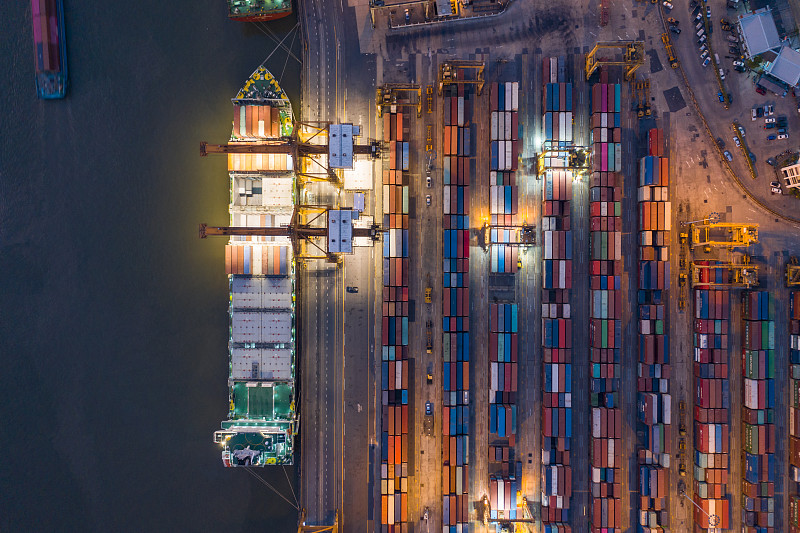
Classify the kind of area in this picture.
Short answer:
port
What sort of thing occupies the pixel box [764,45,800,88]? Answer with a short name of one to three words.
building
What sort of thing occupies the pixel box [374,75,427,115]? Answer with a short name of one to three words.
container crane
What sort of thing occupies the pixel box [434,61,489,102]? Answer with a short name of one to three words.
container crane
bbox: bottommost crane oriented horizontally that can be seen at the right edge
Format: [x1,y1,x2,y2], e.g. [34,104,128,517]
[690,259,760,291]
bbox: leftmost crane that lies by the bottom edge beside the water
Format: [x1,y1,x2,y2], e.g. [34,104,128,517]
[295,509,338,533]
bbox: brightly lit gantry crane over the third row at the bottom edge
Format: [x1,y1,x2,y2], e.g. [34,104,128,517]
[483,492,539,533]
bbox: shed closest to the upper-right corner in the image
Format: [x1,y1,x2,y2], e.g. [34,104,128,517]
[765,0,797,38]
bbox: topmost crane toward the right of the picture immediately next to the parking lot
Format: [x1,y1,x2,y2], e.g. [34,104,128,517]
[588,41,651,84]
